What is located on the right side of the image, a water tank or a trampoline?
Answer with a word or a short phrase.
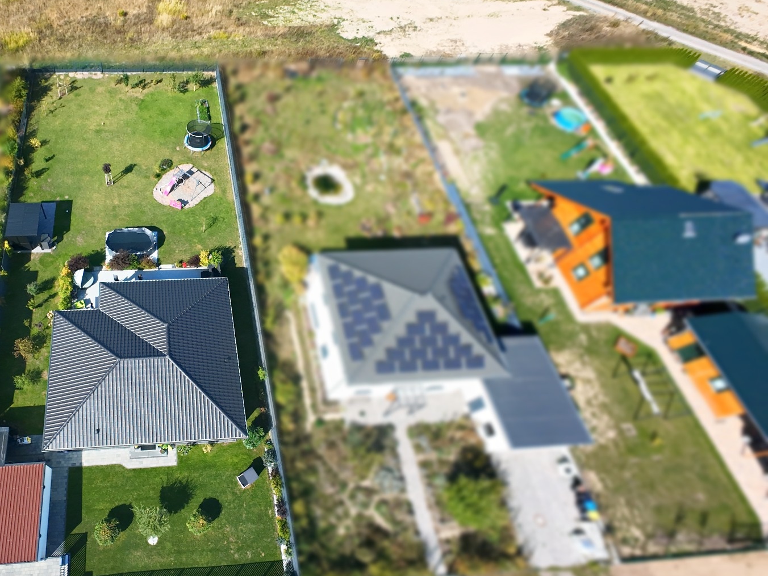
trampoline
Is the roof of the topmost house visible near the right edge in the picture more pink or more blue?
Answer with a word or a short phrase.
blue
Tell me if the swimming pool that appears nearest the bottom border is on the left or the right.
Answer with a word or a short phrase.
left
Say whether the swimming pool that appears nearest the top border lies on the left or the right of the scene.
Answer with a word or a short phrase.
right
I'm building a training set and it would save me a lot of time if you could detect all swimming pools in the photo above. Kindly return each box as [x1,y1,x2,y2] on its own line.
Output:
[553,108,590,134]
[106,226,157,259]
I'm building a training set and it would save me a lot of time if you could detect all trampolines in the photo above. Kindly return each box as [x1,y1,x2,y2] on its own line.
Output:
[182,119,214,157]
[520,75,561,108]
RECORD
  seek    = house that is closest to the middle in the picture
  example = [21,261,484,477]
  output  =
[302,247,510,399]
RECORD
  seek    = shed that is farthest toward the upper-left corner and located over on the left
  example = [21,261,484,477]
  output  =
[2,202,44,244]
